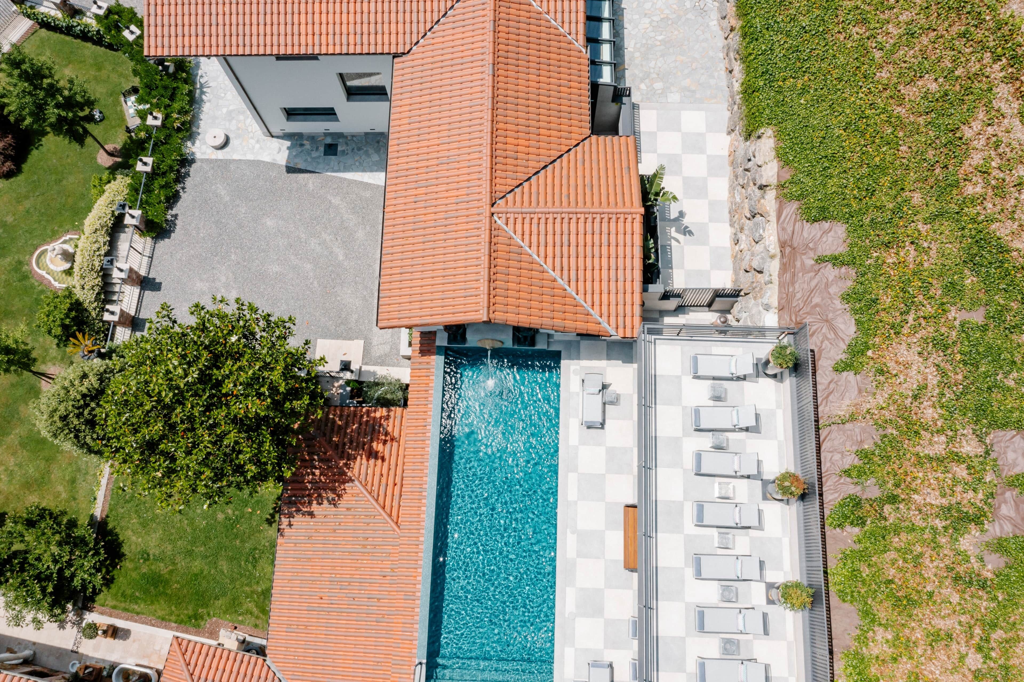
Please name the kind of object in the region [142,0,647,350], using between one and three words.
house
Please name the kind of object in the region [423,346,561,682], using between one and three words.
swimming pool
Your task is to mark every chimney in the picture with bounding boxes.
[219,622,254,649]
